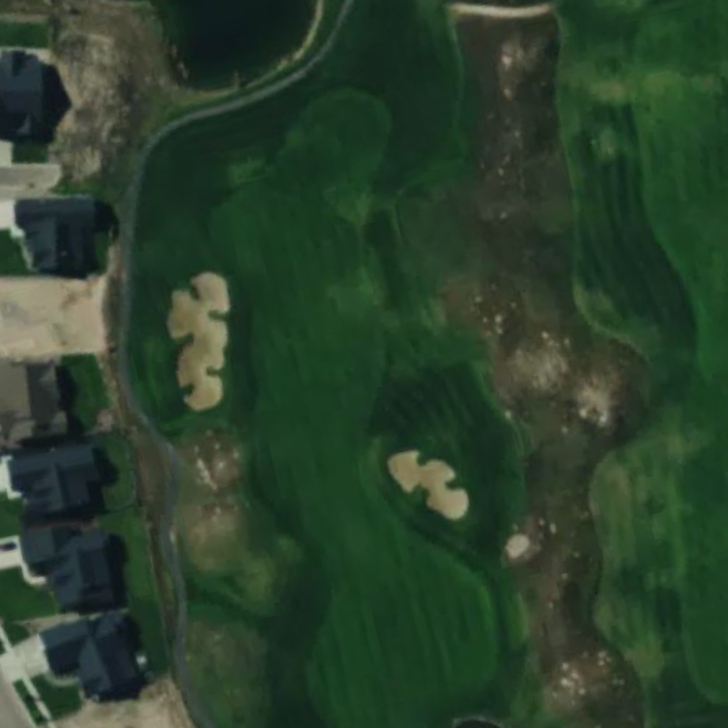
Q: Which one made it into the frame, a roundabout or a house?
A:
house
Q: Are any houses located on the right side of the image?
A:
No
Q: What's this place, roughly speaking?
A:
golf course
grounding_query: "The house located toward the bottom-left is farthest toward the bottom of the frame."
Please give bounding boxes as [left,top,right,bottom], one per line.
[33,607,145,700]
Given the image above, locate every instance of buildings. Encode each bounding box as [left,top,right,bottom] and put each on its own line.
[33,607,145,700]
[19,524,118,611]
[0,357,69,443]
[12,194,97,274]
[7,439,103,521]
[0,49,47,140]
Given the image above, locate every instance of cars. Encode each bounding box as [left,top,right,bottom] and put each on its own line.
[0,539,19,552]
